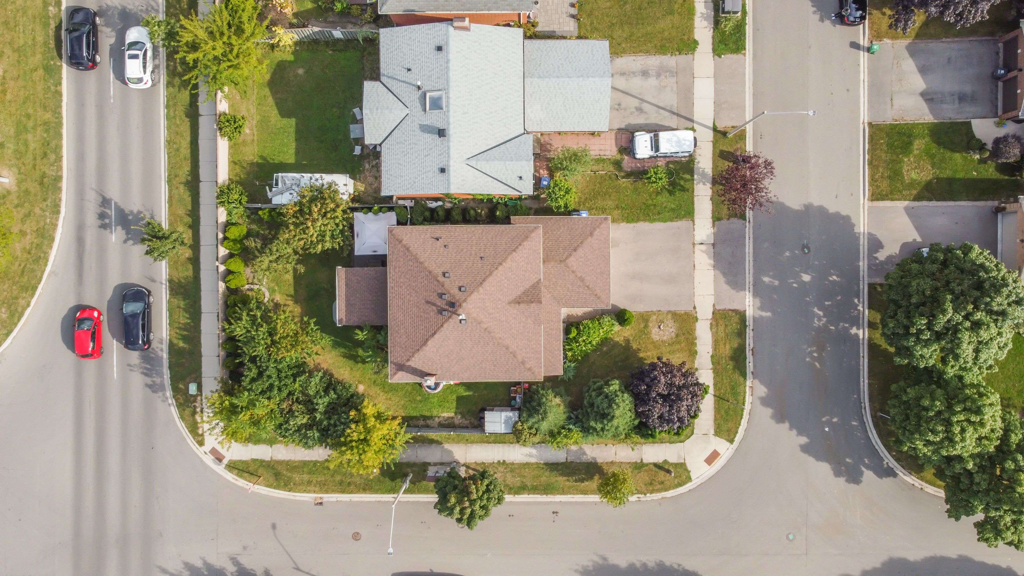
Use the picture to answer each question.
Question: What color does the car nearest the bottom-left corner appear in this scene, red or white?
red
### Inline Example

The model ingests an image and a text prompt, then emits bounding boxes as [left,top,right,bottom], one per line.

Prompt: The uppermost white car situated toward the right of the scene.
[632,127,699,160]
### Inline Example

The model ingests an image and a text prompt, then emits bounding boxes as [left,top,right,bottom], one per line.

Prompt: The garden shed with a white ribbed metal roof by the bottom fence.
[484,409,518,434]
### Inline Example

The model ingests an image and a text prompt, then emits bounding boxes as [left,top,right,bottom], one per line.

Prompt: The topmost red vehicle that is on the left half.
[73,309,105,357]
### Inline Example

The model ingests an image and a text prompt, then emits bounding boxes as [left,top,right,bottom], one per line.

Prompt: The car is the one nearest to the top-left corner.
[66,8,101,71]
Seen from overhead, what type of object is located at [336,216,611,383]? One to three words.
house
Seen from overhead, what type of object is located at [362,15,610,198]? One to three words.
house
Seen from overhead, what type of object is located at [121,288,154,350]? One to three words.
car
